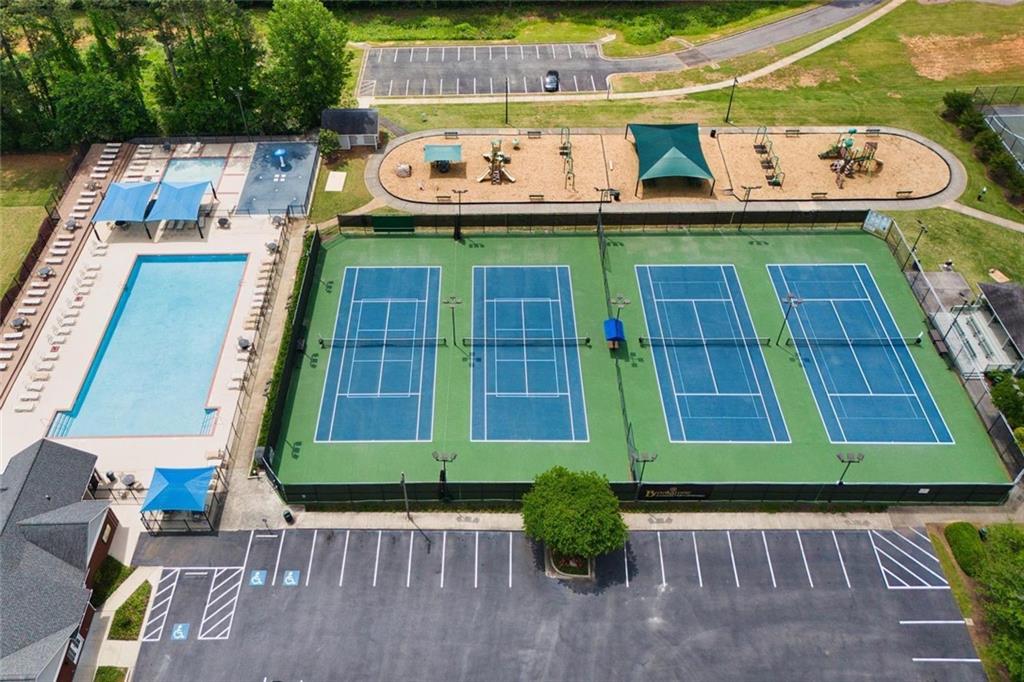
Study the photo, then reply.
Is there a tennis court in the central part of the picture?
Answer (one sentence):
Yes, there is a tennis court in the central part of the picture.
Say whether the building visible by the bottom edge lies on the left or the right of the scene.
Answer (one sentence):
It is on the left.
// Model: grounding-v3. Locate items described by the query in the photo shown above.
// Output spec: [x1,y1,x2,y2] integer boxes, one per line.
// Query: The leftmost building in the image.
[0,438,120,682]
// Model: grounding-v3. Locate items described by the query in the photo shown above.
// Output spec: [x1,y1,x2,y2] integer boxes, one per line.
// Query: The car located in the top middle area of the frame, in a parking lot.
[545,70,560,90]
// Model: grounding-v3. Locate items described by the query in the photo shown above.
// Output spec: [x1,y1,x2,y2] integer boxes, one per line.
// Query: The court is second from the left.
[470,265,589,442]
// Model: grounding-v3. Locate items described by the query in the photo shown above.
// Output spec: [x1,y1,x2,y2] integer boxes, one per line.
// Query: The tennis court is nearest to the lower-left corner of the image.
[314,266,442,442]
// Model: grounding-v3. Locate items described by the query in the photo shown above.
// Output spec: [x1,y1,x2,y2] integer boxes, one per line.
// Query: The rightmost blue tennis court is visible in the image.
[766,264,955,443]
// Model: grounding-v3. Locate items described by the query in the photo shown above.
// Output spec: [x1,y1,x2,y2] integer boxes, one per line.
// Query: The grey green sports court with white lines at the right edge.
[976,105,1024,166]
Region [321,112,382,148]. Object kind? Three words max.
shed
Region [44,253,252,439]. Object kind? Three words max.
swimming pool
